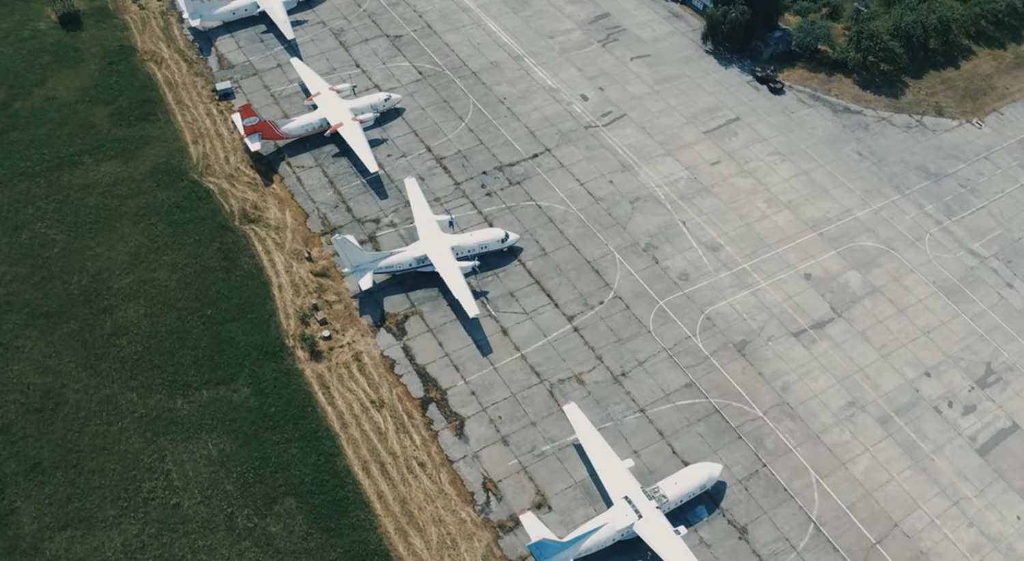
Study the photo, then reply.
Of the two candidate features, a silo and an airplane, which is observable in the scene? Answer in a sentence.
Of the two, only an airplane appears.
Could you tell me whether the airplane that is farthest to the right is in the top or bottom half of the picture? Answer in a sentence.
The bottom half of the photo is where the airplane that is farthest to the right is.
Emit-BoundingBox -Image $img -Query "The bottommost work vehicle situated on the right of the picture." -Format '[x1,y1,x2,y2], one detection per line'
[757,67,787,92]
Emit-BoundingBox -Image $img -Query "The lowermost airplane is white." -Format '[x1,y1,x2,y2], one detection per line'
[515,403,727,561]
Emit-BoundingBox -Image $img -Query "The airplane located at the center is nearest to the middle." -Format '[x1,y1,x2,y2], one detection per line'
[329,175,519,319]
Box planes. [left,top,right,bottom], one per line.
[230,54,402,172]
[515,403,727,561]
[329,175,519,319]
[178,0,306,39]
